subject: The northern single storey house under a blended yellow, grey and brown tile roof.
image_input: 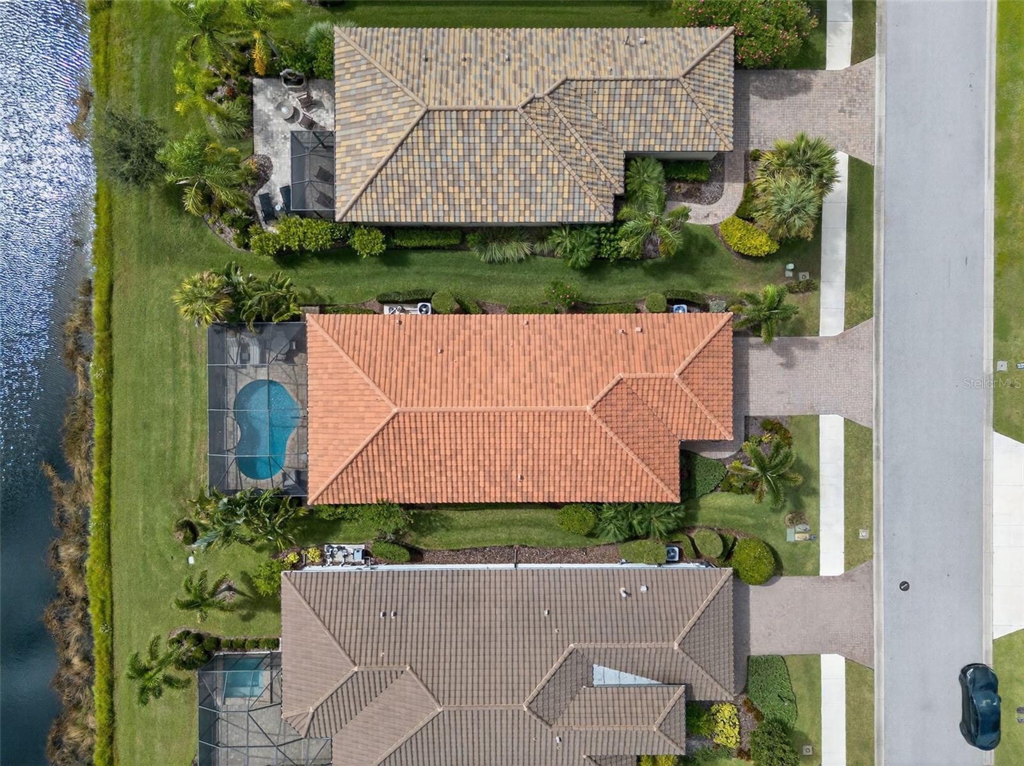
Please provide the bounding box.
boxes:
[332,23,737,225]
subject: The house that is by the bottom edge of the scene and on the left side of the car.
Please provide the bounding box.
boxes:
[279,551,737,766]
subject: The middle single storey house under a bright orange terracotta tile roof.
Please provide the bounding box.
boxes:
[305,311,735,506]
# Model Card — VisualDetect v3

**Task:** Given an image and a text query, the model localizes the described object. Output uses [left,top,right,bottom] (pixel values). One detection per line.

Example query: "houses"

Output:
[305,311,735,506]
[332,23,737,225]
[279,551,737,766]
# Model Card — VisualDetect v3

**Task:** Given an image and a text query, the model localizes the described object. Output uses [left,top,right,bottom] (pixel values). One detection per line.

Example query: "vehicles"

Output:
[955,664,1004,751]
